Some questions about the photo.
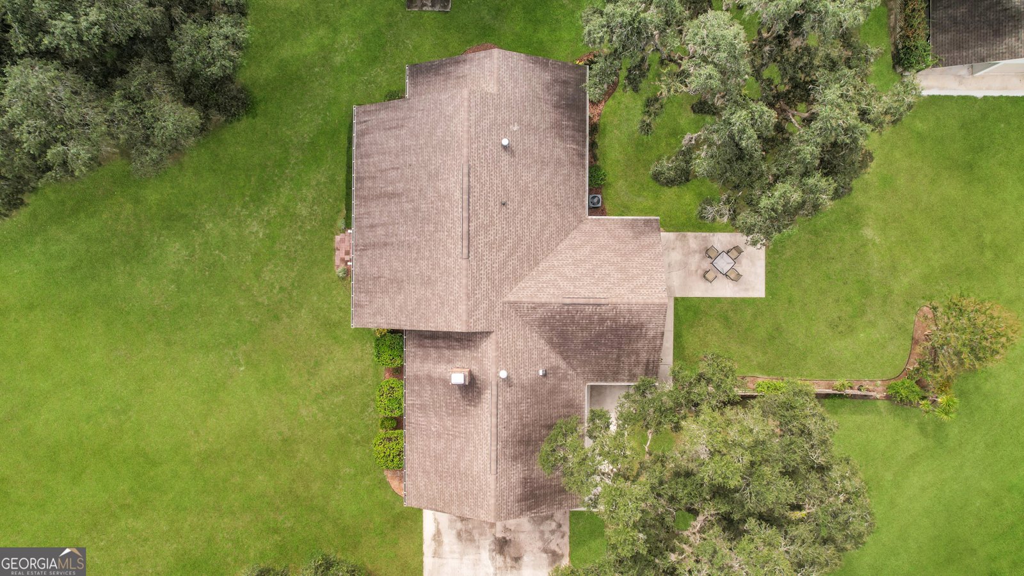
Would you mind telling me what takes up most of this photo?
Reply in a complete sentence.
For the most part, this view shows grass.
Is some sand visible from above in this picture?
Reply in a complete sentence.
No, the picture contains no sand.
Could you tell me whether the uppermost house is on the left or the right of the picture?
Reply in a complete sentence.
The uppermost house sits on the right side.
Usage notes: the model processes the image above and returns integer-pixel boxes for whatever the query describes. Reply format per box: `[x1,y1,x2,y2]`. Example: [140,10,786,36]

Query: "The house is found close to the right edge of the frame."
[921,0,1024,76]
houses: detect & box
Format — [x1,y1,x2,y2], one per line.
[921,0,1024,76]
[350,48,670,524]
